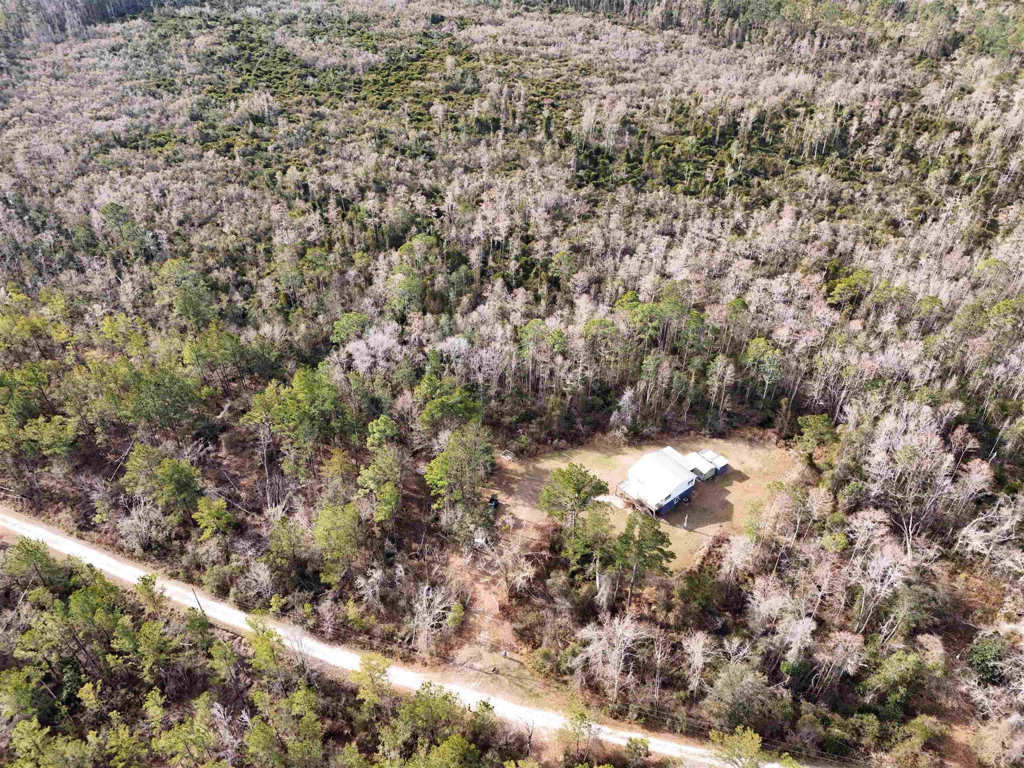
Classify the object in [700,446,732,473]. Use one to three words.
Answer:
shed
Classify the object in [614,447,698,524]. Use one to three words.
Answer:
house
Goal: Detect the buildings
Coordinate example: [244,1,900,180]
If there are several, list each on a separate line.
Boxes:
[614,447,698,524]
[700,446,732,473]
